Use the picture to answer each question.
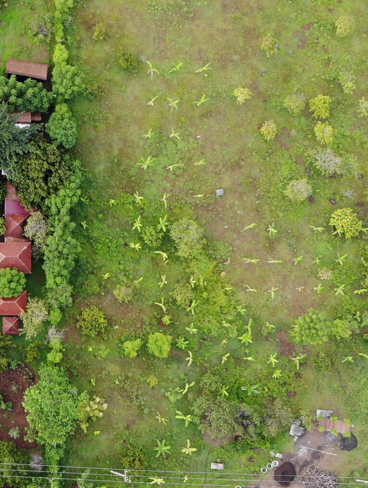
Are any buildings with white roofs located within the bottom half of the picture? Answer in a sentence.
No, I can find no building with a white roof within the bottom half of the picture.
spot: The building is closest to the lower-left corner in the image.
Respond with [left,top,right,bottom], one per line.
[2,315,21,335]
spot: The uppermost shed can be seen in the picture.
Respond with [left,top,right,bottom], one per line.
[6,58,48,85]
